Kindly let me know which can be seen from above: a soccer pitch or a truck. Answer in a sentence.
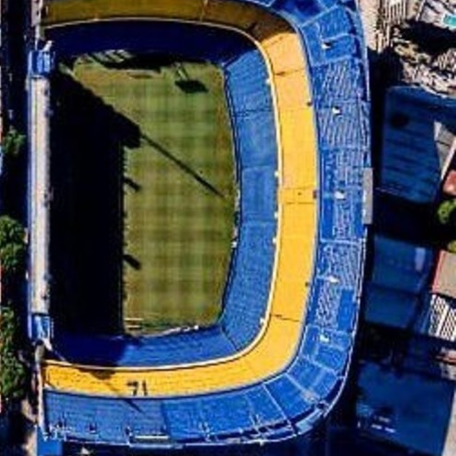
There is a soccer pitch in the scene.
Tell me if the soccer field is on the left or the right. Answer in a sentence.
It is on the left.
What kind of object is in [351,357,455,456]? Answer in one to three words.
building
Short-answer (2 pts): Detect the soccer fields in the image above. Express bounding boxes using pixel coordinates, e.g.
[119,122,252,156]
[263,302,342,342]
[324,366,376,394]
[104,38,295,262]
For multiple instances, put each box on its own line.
[51,51,236,334]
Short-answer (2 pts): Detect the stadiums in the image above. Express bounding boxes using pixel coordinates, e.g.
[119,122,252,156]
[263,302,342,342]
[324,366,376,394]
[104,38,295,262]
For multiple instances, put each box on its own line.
[26,0,372,448]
